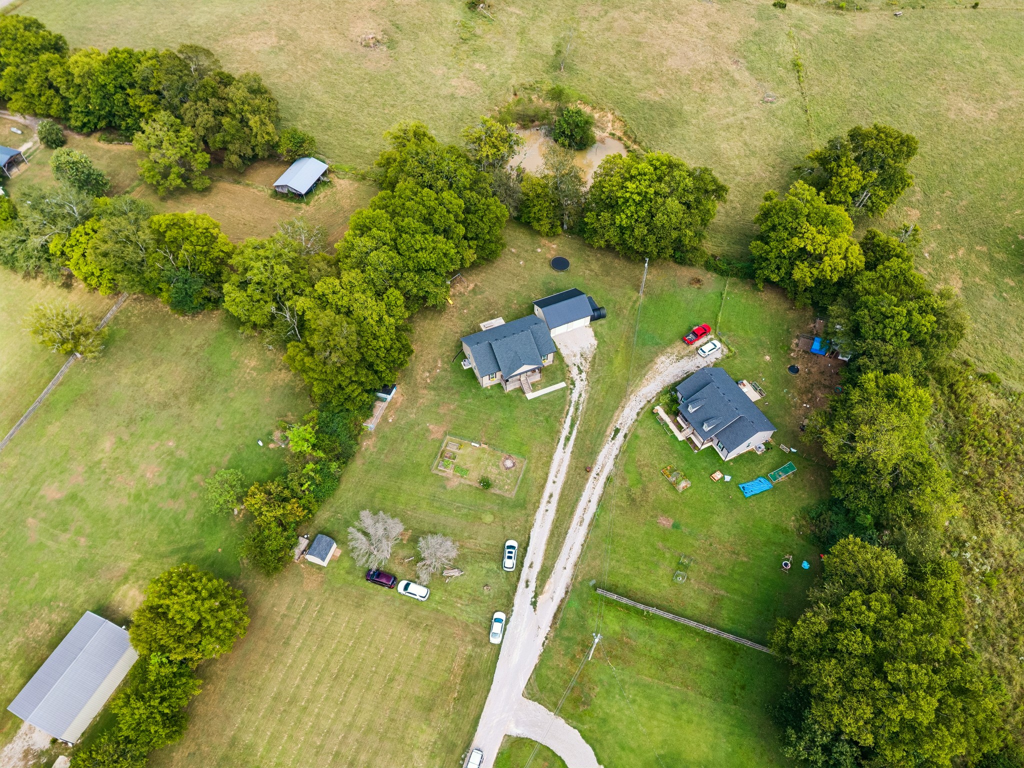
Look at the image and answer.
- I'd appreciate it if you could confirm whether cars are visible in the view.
Yes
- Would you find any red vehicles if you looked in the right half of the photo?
Yes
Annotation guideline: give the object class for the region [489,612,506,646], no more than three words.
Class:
car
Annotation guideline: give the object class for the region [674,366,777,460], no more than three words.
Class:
house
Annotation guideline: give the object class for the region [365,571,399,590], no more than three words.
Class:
car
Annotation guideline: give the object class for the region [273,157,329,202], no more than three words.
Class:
barn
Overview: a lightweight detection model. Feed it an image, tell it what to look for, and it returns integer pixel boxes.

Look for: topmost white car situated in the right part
[698,342,720,358]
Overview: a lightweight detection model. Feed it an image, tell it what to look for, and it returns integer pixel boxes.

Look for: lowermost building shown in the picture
[7,608,139,742]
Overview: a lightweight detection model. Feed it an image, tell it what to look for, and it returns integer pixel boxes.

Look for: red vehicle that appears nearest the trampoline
[683,327,711,346]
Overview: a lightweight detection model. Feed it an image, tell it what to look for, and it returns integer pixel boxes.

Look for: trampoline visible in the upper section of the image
[550,257,570,274]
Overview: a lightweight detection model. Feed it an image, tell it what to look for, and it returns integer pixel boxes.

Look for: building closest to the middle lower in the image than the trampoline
[461,315,557,394]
